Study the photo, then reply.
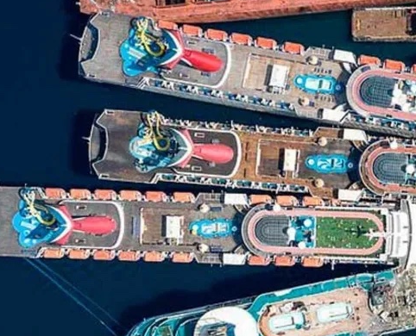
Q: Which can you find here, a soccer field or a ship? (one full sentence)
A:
The image shows a ship.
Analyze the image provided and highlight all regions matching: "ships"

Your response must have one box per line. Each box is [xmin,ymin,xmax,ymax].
[351,3,416,43]
[75,0,416,23]
[0,187,416,271]
[79,109,416,203]
[129,266,416,336]
[70,10,416,138]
